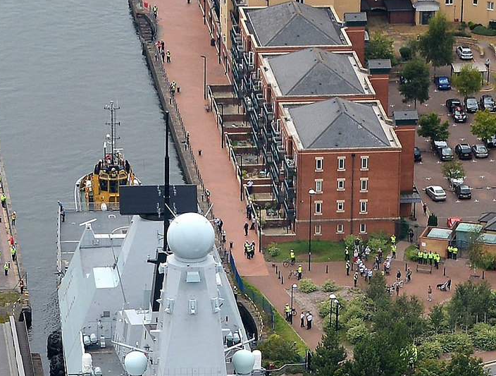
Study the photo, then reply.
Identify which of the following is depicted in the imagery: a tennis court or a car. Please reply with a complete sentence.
There is a car in the scene.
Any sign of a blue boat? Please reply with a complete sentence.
No, I find no blue boat anywhere in the image.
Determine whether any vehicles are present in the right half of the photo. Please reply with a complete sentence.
Yes, looking in the right half of the photo, one can make out a vehicle.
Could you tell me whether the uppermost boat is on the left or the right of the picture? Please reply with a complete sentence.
The uppermost boat sits on the left side.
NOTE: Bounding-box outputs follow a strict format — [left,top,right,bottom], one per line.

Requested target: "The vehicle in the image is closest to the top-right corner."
[454,46,475,60]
